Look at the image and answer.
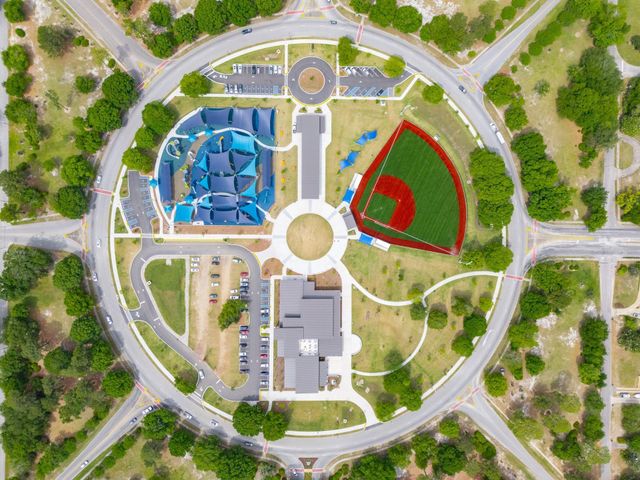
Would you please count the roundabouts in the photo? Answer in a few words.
2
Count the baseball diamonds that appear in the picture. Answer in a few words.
1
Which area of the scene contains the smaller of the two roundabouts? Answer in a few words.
top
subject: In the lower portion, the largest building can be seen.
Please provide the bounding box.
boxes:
[274,279,343,393]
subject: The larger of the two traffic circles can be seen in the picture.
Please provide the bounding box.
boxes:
[89,18,526,458]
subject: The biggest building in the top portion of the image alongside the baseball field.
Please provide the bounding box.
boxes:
[296,115,325,199]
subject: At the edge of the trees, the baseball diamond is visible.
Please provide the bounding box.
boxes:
[351,121,466,255]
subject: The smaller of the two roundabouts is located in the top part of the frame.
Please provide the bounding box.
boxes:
[288,56,336,106]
